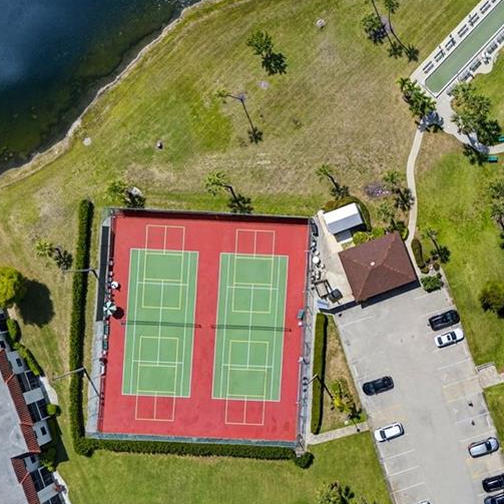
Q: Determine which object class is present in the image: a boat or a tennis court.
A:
tennis court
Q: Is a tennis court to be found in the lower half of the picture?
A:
Yes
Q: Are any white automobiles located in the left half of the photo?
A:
No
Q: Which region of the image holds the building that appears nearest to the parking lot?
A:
right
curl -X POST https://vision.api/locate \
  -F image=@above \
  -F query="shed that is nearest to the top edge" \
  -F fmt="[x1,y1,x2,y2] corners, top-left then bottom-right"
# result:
[323,203,362,234]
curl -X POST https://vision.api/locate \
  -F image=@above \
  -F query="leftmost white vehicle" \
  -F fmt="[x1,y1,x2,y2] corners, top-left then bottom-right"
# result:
[374,422,404,441]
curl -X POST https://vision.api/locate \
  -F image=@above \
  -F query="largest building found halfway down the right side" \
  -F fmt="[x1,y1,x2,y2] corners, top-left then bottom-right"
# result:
[338,232,419,302]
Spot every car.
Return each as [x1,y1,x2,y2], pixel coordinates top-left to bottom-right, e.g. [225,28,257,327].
[427,310,460,329]
[482,491,504,504]
[481,472,504,492]
[467,435,499,455]
[362,375,394,394]
[433,329,464,347]
[374,422,404,441]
